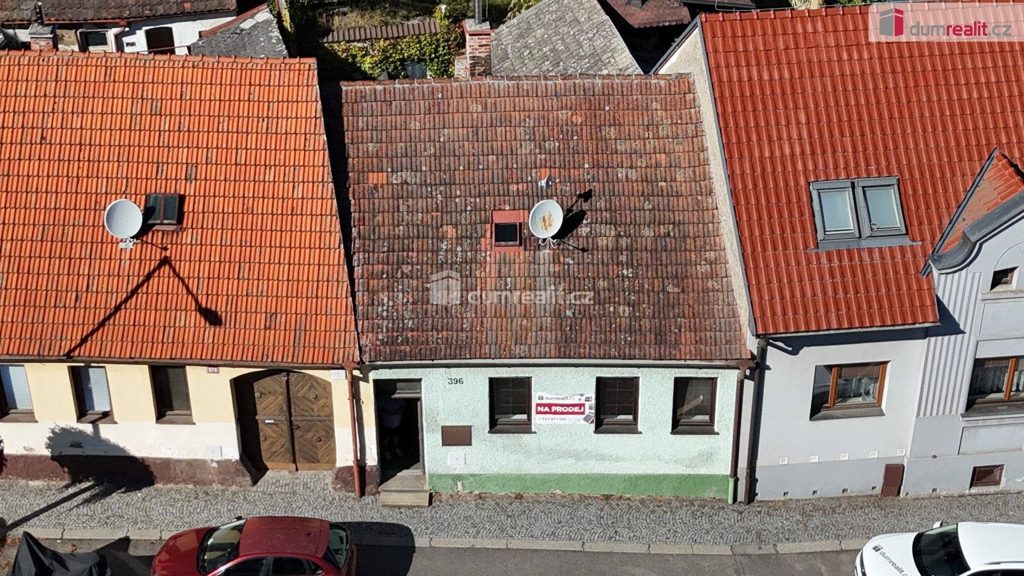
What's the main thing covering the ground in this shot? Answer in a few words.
buildings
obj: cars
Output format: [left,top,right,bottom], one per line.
[149,514,361,576]
[855,517,1024,576]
